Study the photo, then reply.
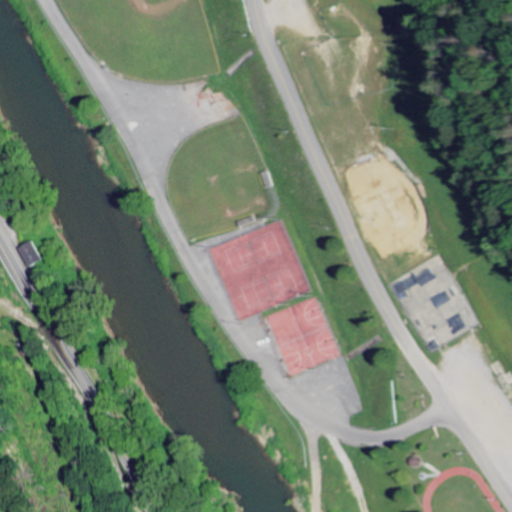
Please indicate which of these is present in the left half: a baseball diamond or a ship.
baseball diamond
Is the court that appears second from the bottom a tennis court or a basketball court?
basketball court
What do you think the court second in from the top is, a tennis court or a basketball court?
tennis court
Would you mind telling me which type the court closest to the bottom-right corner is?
basketball court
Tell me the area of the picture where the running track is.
bottom right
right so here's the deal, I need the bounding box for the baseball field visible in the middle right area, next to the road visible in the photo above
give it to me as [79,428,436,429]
[346,158,428,258]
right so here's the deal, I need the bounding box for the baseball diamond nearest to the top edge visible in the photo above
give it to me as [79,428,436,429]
[54,0,219,82]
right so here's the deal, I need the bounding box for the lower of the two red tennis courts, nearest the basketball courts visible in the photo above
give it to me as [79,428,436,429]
[226,256,312,320]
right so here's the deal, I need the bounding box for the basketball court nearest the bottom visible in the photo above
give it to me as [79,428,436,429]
[278,328,340,376]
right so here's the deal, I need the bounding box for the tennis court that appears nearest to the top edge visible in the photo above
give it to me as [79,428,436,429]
[210,221,296,284]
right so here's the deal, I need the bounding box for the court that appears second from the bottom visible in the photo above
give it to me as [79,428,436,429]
[266,298,328,346]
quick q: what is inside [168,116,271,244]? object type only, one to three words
baseball field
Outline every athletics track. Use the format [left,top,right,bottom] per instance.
[422,467,504,512]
